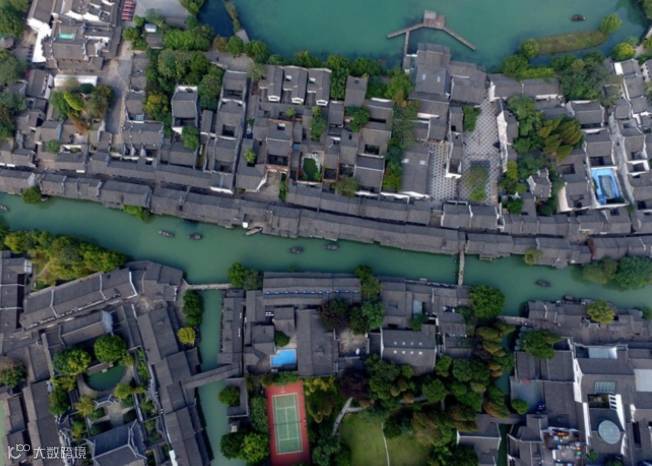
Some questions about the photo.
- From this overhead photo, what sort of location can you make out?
residential area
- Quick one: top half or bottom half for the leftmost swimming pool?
bottom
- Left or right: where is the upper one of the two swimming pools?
right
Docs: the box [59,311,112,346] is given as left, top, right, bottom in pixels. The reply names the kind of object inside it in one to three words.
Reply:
house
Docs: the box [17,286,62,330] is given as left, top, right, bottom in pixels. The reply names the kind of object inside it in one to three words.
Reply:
house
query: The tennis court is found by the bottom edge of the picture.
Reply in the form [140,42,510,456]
[266,381,307,466]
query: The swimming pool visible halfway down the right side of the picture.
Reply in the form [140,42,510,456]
[593,169,630,208]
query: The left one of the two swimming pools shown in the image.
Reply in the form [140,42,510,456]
[270,347,297,371]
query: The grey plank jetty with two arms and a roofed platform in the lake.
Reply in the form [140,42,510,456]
[386,11,476,53]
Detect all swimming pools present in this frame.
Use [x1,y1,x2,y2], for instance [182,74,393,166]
[270,347,297,371]
[593,169,630,208]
